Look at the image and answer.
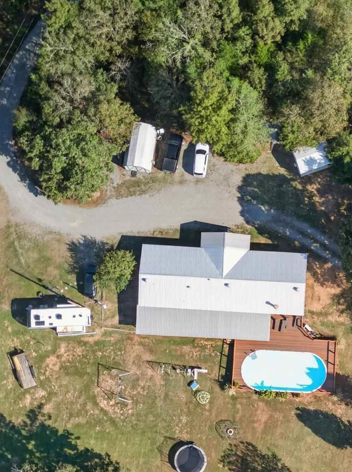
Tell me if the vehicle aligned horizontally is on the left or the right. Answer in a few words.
left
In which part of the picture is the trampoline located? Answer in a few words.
bottom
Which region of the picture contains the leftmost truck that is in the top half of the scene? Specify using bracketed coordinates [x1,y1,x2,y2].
[161,132,183,176]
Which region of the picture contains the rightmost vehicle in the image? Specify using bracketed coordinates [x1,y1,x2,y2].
[193,143,210,179]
